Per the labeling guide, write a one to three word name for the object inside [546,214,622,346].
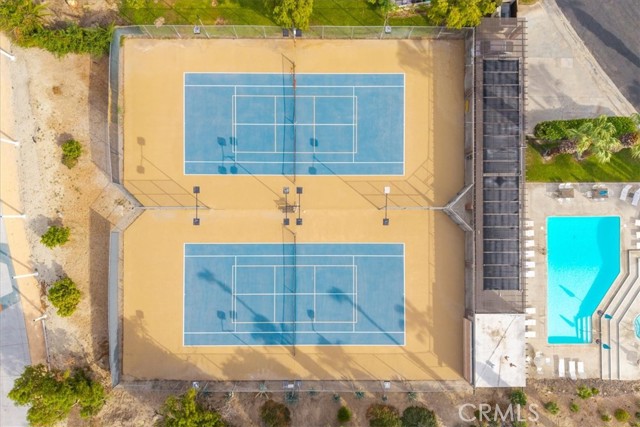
swimming pool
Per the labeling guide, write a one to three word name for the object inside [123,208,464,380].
tennis court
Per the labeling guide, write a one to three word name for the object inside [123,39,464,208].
tennis court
